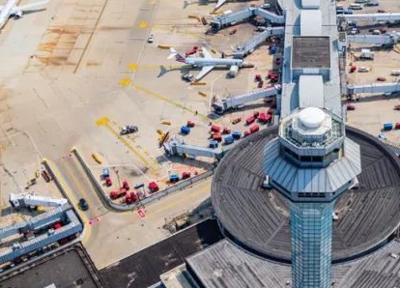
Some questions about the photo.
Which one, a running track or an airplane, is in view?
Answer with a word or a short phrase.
airplane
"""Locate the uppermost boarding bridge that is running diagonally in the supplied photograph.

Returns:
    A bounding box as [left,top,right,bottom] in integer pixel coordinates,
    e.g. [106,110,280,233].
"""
[234,29,285,68]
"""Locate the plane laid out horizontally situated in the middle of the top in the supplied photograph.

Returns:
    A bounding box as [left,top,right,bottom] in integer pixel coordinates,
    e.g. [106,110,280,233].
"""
[178,46,255,80]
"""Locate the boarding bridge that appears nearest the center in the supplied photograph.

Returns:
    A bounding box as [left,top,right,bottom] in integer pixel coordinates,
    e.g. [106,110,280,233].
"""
[167,142,224,172]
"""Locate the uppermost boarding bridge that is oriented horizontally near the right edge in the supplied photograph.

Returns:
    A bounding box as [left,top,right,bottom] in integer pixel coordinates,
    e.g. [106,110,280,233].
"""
[339,13,400,31]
